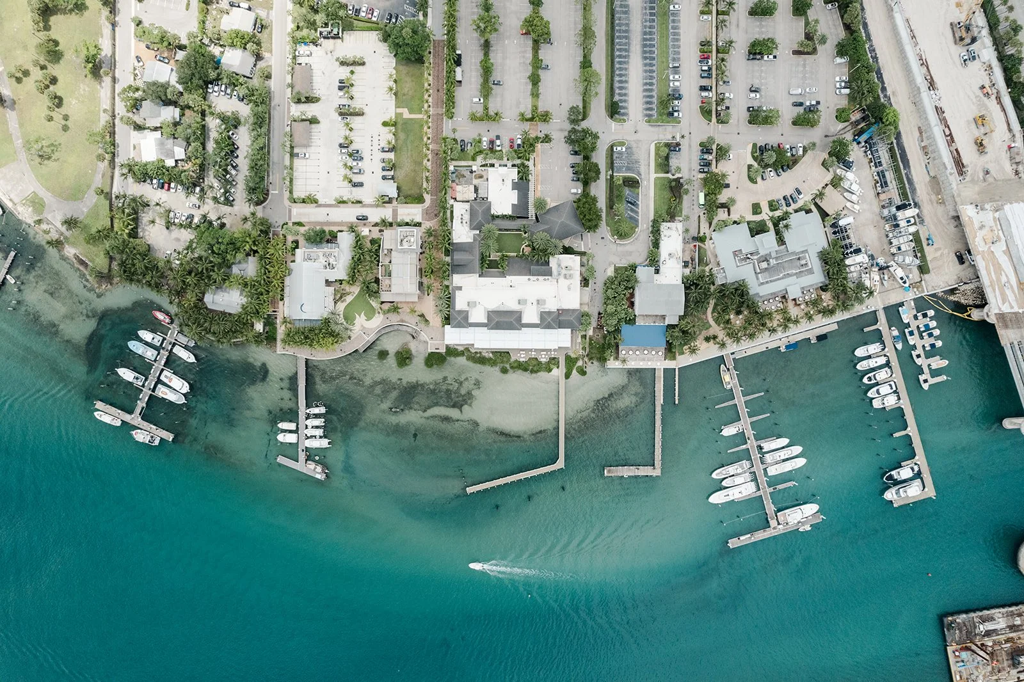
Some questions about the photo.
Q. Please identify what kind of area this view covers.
port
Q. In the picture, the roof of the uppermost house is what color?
white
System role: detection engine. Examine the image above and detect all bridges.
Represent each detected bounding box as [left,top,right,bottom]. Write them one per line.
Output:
[957,203,1024,432]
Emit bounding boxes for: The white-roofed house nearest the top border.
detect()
[221,8,257,35]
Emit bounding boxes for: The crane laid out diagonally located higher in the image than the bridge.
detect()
[953,0,993,45]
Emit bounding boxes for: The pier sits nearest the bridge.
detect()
[904,300,946,383]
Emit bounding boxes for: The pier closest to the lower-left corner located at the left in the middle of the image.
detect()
[93,322,189,442]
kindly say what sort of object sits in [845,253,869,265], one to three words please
boat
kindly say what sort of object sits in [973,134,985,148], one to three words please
vehicle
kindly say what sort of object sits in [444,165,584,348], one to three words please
building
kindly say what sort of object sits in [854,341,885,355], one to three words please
boat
